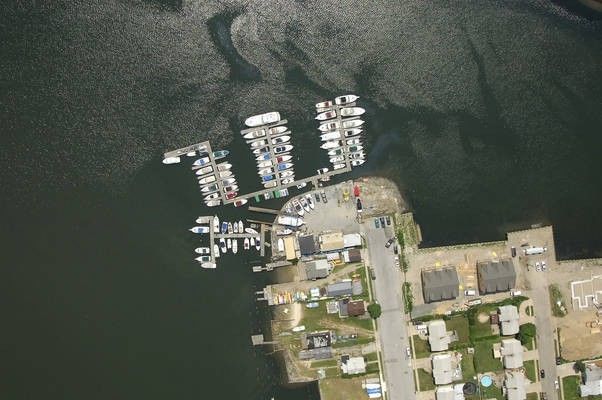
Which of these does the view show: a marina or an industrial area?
marina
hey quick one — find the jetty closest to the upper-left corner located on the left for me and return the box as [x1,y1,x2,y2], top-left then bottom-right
[163,141,240,205]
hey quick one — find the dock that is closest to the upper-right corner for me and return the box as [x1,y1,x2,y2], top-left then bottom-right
[317,102,365,172]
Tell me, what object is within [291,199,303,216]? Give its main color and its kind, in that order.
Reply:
white boat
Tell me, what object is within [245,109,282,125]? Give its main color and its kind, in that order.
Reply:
white boat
